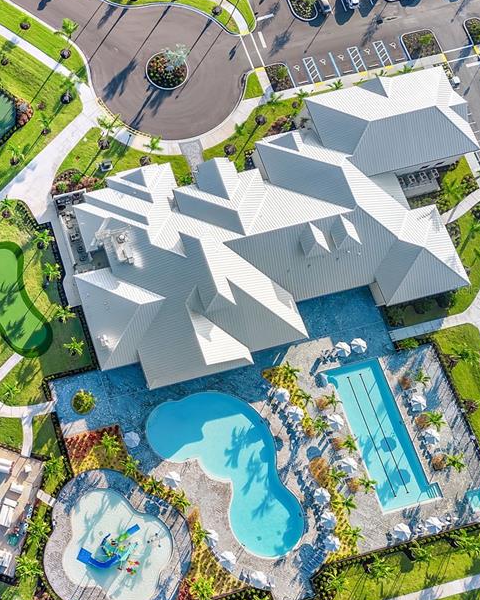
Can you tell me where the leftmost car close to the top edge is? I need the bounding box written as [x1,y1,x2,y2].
[317,0,332,14]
